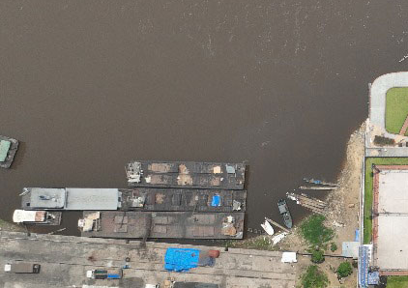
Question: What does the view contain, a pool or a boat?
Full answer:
This aerial view contains a boat.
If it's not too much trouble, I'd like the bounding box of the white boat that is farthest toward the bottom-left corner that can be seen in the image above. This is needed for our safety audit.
[14,209,63,225]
